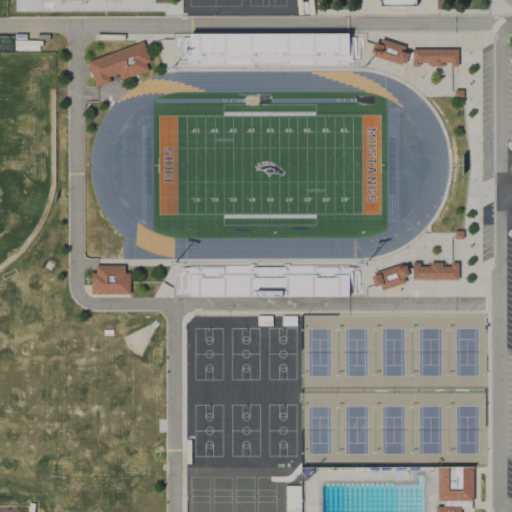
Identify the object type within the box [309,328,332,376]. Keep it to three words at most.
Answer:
tennis court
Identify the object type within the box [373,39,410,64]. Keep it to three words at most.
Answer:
building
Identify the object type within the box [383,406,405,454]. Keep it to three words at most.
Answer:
tennis court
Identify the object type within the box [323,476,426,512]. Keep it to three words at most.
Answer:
swimming pool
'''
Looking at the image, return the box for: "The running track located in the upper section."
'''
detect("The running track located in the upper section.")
[93,72,449,258]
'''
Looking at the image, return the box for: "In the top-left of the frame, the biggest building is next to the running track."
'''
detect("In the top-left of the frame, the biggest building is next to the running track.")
[90,42,152,86]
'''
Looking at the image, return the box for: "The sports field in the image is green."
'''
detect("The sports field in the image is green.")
[154,90,387,240]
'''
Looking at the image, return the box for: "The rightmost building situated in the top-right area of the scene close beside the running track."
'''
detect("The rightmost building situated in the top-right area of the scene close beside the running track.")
[414,48,460,66]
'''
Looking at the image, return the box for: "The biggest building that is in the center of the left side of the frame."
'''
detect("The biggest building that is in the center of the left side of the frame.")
[92,265,132,294]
